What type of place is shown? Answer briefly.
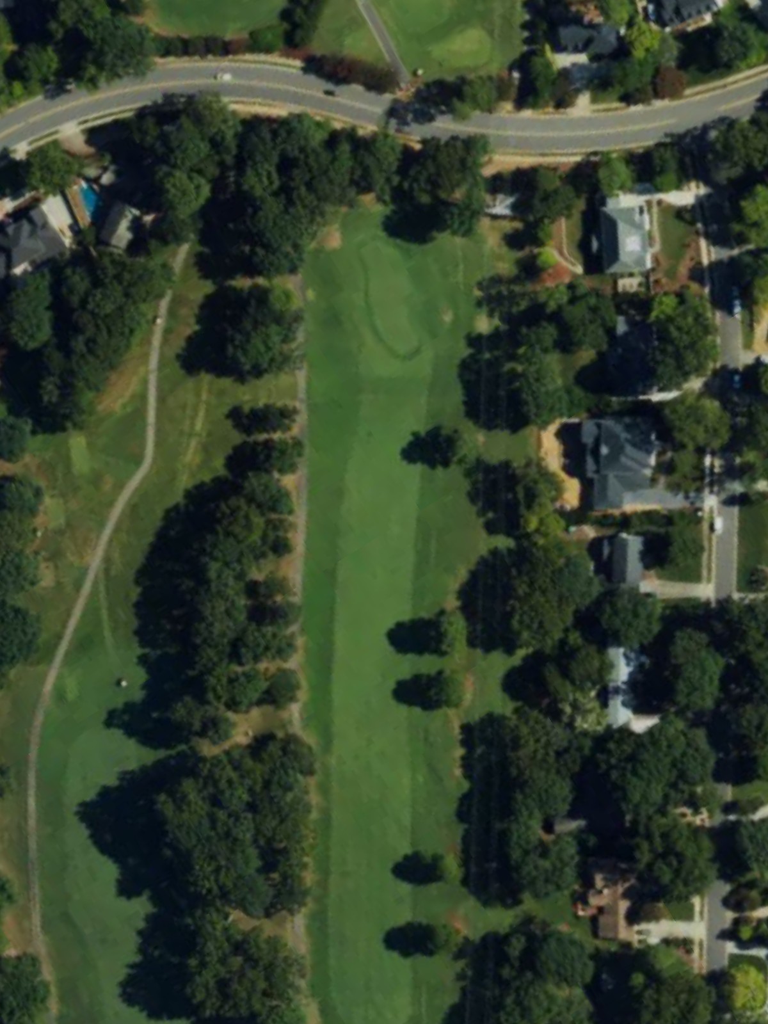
golf course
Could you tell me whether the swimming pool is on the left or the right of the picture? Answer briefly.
left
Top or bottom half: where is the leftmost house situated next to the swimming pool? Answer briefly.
top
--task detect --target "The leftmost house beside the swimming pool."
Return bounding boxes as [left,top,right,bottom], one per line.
[0,204,76,279]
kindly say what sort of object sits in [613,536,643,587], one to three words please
house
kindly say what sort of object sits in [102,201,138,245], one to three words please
shed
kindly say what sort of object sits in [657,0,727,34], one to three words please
house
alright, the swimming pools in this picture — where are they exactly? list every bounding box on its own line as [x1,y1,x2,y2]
[67,181,108,227]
